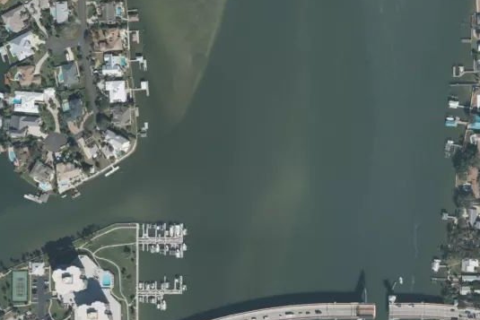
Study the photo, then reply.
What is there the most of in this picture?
water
